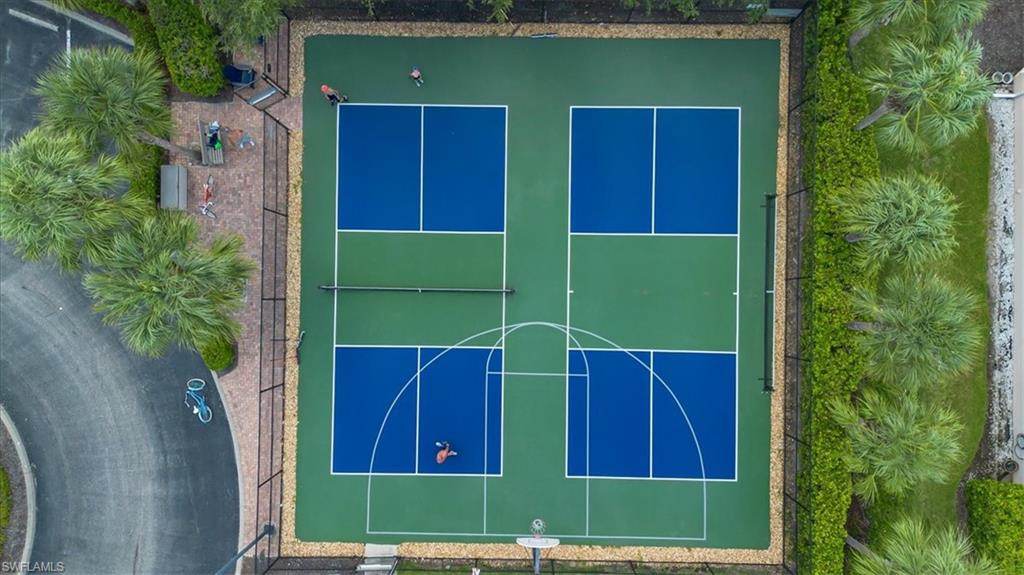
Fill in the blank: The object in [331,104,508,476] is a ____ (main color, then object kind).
blue sports court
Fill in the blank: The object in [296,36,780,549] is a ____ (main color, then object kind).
green sports court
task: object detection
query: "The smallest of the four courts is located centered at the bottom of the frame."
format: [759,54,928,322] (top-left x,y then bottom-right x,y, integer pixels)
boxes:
[367,321,706,541]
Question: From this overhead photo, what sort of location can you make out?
sports ground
